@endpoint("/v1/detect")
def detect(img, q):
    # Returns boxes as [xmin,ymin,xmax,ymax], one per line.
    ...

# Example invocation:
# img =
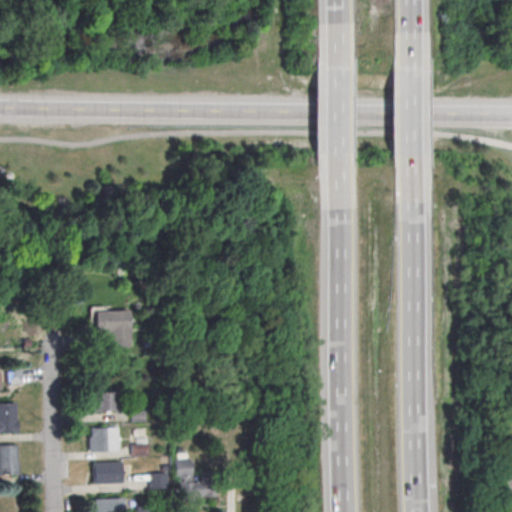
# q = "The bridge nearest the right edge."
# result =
[394,23,433,208]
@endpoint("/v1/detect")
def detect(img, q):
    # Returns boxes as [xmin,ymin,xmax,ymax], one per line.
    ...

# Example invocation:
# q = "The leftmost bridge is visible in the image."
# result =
[318,23,358,208]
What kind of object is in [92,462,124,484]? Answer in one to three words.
house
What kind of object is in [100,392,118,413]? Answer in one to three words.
house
